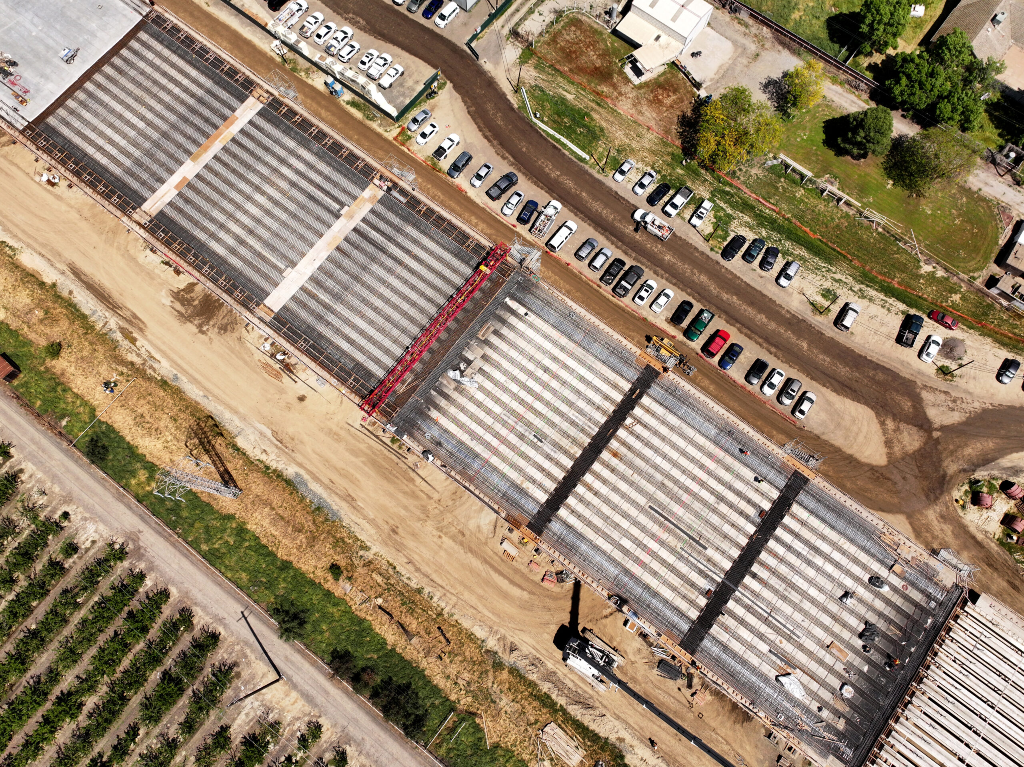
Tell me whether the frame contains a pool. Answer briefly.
No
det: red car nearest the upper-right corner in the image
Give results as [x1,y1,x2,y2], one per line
[927,312,959,332]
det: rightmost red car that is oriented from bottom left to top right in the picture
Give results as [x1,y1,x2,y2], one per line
[703,329,729,360]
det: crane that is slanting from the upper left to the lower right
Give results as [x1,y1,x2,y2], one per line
[558,628,725,767]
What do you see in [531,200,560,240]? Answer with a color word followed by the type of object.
white truck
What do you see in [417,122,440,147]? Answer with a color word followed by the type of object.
white car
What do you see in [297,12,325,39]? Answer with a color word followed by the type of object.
white truck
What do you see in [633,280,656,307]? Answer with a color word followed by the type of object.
white car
